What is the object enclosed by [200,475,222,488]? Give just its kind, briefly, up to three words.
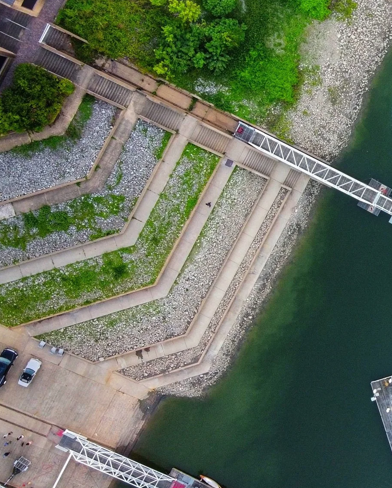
boat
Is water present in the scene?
Yes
